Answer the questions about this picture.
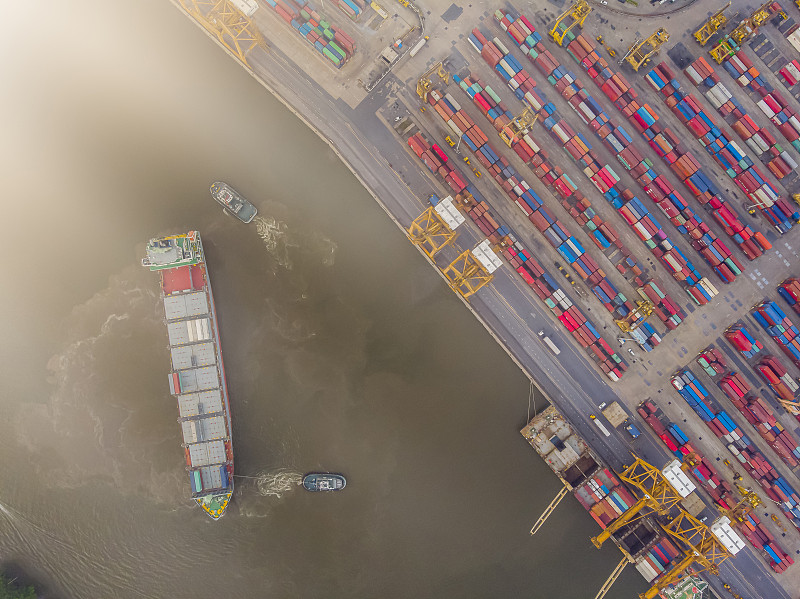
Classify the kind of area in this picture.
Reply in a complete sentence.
It's a port.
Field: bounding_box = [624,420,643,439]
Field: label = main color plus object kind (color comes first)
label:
blue vehicle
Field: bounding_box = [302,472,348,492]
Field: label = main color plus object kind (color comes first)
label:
gray boat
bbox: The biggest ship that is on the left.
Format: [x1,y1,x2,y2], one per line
[145,232,234,521]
